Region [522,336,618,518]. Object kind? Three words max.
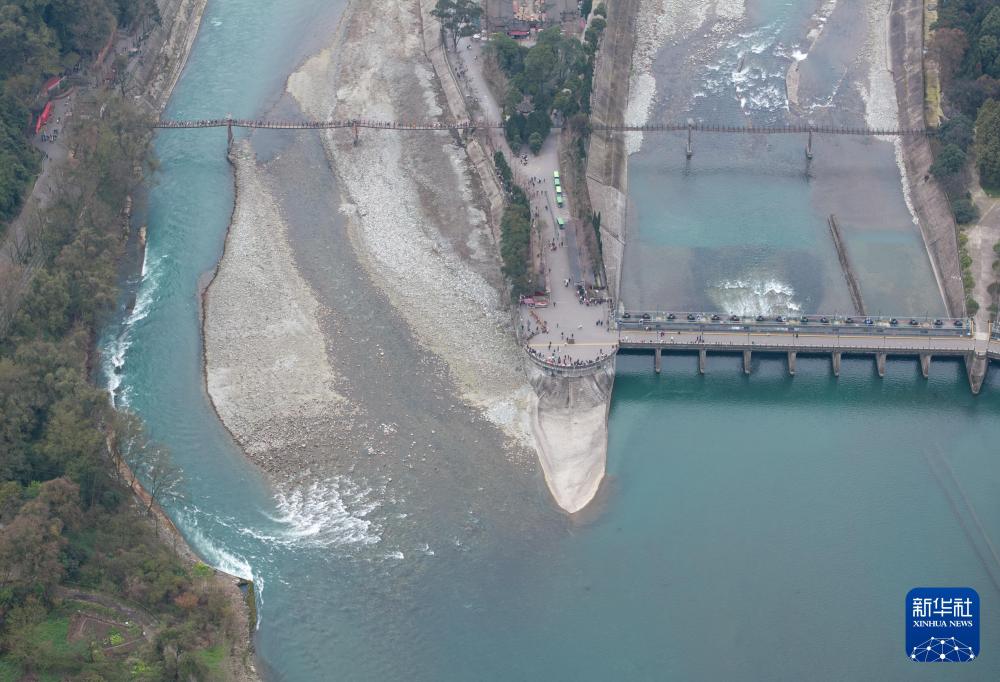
pier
